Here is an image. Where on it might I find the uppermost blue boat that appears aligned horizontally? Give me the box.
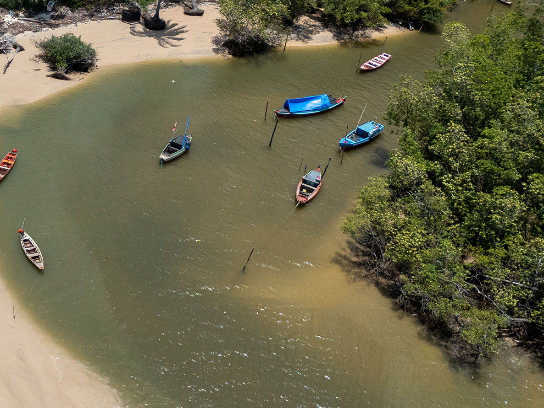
[269,93,349,117]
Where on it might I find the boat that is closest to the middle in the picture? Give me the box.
[290,144,324,212]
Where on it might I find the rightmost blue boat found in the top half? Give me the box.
[332,108,386,149]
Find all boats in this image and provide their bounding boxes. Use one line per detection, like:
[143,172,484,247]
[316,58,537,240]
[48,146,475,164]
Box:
[269,93,349,117]
[158,117,196,164]
[0,145,17,181]
[332,108,386,149]
[12,212,45,274]
[290,144,324,212]
[499,0,514,6]
[359,51,393,72]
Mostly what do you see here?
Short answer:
water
